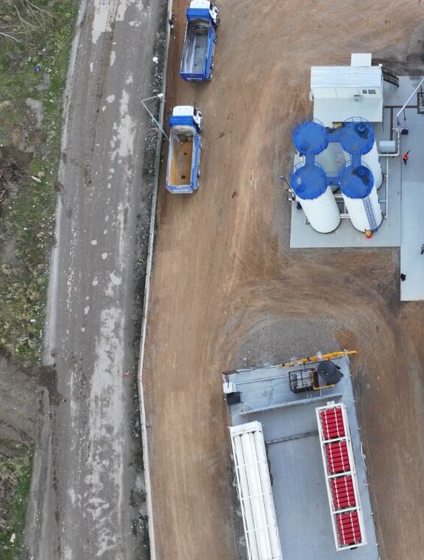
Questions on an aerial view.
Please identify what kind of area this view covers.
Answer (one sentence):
This looks like an industrial area.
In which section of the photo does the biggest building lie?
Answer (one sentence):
Look in the top right portion of the view to spot the biggest building.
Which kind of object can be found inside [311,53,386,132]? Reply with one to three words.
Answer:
building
